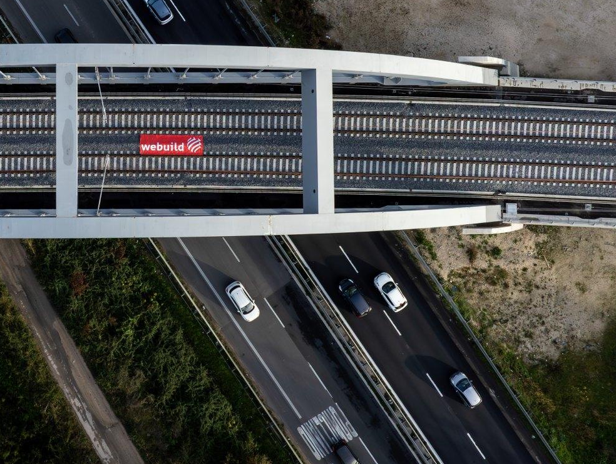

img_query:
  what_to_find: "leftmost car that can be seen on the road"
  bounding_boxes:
[53,25,80,45]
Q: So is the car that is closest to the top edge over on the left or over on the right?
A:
left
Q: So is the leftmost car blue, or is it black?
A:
black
